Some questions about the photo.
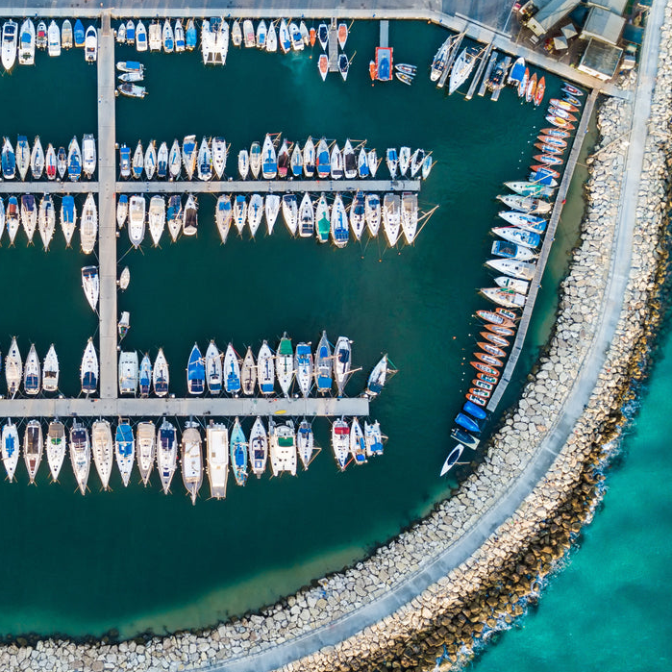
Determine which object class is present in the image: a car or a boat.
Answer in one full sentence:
The one in the frame is a boat.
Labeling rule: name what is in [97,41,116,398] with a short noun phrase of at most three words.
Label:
pier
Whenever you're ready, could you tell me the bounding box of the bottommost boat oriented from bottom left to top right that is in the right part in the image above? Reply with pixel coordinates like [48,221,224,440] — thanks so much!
[440,443,464,476]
